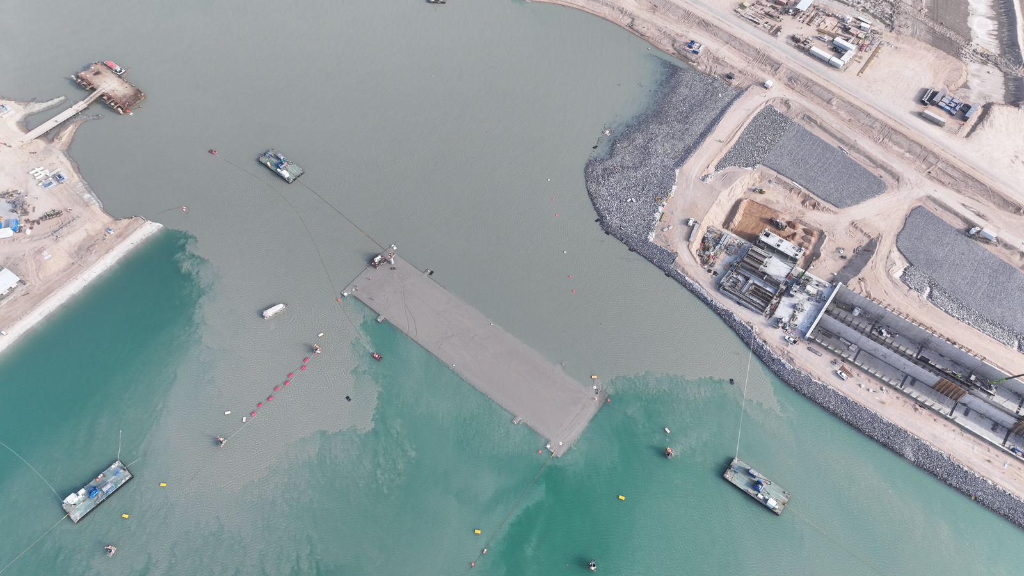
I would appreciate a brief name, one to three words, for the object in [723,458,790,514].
ship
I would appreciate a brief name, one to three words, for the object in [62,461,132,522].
ship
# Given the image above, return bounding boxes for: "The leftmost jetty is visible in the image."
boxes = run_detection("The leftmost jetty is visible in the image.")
[18,86,107,143]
